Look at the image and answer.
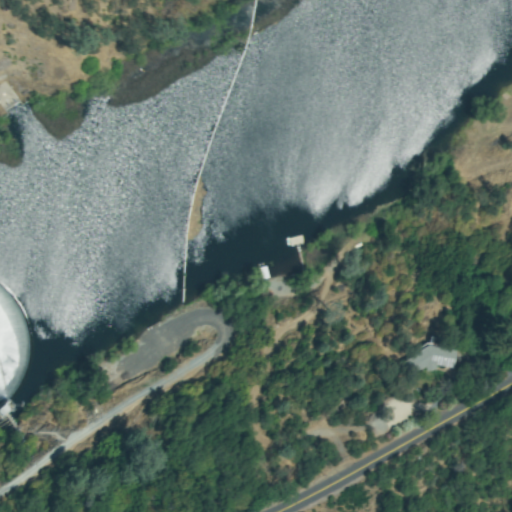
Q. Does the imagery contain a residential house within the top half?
No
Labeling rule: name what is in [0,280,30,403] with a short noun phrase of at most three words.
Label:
dam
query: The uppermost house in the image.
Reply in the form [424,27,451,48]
[408,339,462,374]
